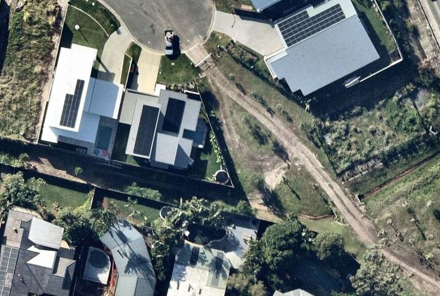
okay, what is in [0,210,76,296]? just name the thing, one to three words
house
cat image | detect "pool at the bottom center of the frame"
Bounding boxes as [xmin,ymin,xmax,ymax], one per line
[184,224,228,247]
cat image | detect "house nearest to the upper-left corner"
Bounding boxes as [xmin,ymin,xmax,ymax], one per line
[42,44,123,143]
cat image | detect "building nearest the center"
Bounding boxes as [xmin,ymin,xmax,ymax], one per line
[120,90,201,168]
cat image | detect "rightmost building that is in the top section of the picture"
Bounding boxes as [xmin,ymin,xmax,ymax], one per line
[265,0,381,96]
